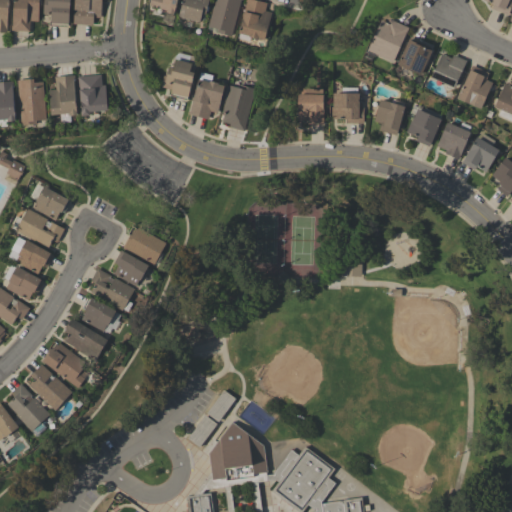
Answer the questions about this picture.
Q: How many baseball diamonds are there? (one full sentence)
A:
My tally gives 3 baseball diamonds in this view.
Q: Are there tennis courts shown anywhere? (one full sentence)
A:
Yes, a tennis court can be made out from above.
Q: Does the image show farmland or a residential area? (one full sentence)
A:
The area seen from above is a residential area.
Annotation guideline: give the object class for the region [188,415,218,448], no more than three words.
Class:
building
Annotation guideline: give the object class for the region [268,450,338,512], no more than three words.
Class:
building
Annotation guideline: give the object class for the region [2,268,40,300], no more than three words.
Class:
house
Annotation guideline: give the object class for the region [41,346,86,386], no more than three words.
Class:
house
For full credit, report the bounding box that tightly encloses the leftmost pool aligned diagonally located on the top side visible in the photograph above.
[426,79,447,97]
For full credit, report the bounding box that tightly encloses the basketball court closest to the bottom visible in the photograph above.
[240,402,275,434]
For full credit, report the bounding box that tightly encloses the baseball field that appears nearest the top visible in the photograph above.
[392,296,459,366]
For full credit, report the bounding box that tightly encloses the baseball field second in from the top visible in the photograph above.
[252,344,323,404]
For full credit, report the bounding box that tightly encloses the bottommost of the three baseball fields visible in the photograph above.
[378,424,436,499]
